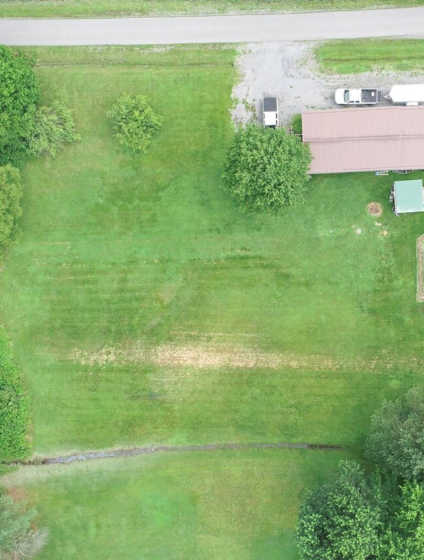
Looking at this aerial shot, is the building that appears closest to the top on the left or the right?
right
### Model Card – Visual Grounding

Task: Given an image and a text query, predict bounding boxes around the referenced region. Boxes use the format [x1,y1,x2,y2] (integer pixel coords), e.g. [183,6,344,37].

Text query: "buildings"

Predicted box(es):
[394,179,424,214]
[302,106,424,175]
